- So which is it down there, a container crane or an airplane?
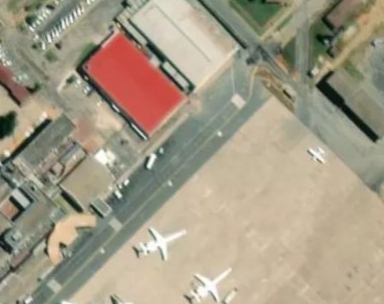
airplane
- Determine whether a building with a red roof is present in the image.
Yes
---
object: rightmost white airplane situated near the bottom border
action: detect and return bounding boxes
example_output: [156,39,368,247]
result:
[189,268,231,303]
